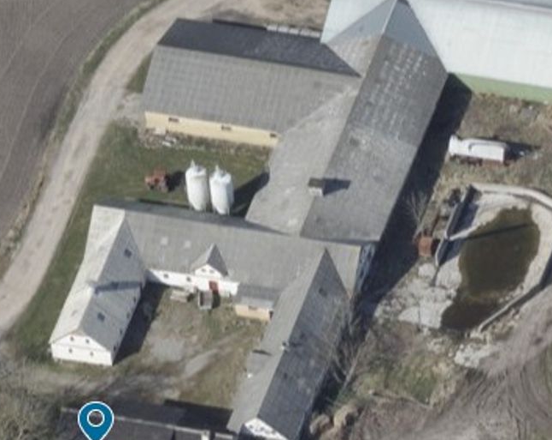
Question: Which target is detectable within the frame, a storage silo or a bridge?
storage silo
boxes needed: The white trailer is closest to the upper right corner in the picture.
[449,132,517,167]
